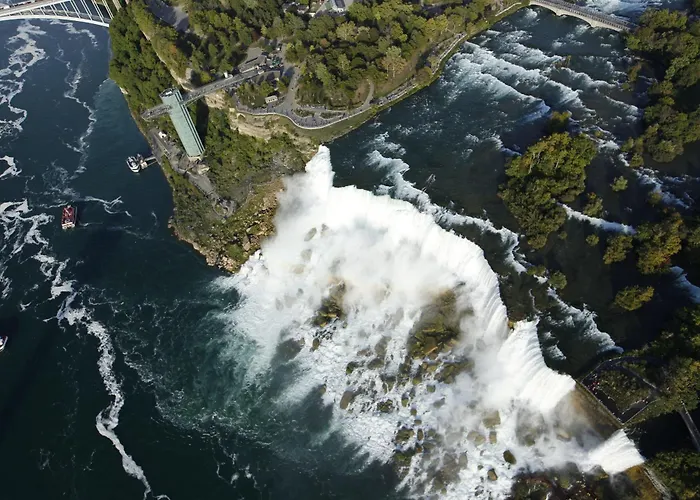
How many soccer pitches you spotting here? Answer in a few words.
none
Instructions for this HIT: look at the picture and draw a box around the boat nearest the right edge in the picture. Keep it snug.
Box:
[124,155,141,173]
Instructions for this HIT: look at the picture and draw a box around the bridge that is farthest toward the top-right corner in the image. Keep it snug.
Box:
[516,0,654,44]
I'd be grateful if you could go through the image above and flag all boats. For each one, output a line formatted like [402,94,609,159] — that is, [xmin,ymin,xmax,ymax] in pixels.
[61,205,77,228]
[124,155,141,173]
[0,333,11,350]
